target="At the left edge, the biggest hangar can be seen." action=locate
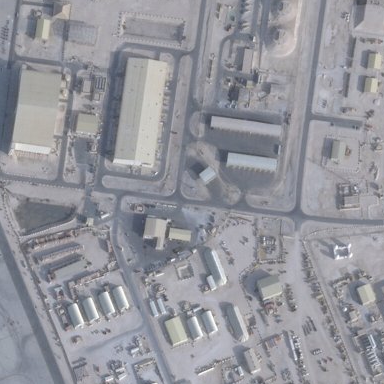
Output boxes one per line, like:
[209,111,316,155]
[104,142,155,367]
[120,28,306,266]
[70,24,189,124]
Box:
[13,68,59,156]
